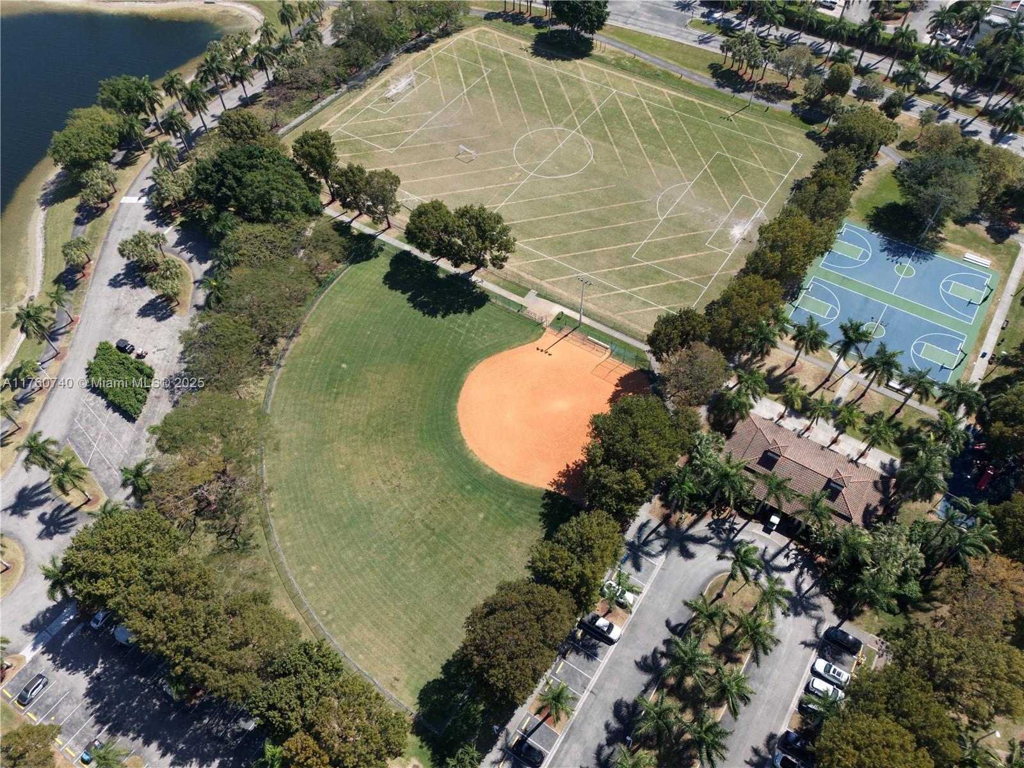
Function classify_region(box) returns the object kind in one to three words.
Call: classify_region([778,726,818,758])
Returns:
car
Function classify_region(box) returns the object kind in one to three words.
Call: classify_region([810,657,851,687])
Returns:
car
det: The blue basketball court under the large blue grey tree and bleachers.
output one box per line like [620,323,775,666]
[821,224,991,323]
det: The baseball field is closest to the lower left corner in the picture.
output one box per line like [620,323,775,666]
[260,253,655,731]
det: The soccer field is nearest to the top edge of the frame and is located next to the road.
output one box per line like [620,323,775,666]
[280,21,825,343]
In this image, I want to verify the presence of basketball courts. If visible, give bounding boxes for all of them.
[788,276,968,386]
[821,224,991,323]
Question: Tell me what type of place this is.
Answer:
sports ground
